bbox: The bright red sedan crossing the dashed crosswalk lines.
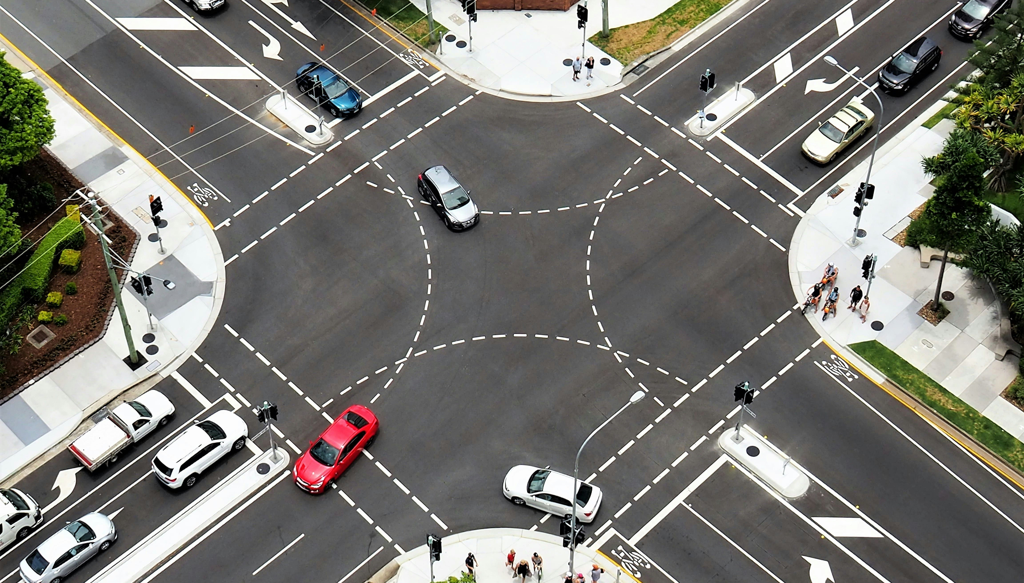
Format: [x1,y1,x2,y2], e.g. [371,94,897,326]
[293,409,378,494]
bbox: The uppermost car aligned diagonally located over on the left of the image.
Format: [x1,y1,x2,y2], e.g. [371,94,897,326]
[292,59,365,118]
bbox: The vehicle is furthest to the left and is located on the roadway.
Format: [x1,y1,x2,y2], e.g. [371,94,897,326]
[0,494,40,552]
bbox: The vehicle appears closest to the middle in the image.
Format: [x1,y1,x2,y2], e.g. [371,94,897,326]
[417,164,479,230]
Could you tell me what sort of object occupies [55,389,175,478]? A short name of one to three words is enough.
truck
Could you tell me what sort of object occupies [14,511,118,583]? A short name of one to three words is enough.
car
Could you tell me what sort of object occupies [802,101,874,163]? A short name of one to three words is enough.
car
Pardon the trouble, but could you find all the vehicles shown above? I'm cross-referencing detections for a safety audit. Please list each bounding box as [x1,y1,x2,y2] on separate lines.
[293,409,378,494]
[802,101,874,163]
[949,0,1014,39]
[0,494,40,552]
[876,34,946,94]
[292,59,365,118]
[500,464,605,523]
[55,389,175,478]
[151,409,249,492]
[14,511,118,583]
[417,164,479,230]
[186,0,226,12]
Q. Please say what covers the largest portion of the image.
paved ground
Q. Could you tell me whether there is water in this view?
No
